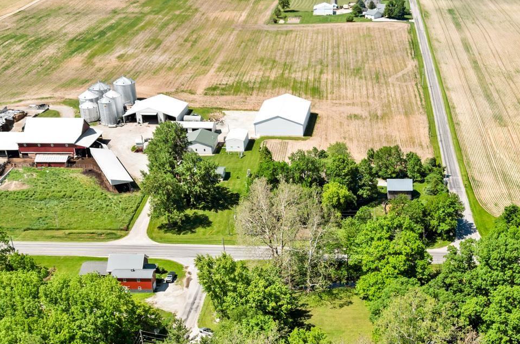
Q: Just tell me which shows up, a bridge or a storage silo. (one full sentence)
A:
This aerial view contains a storage silo.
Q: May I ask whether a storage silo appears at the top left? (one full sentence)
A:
Yes, the scene does show a storage silo at the top left.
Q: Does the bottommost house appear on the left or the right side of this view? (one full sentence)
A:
The bottommost house is on the left side of the image.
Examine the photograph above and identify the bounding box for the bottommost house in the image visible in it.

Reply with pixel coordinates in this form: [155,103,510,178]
[110,268,160,292]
